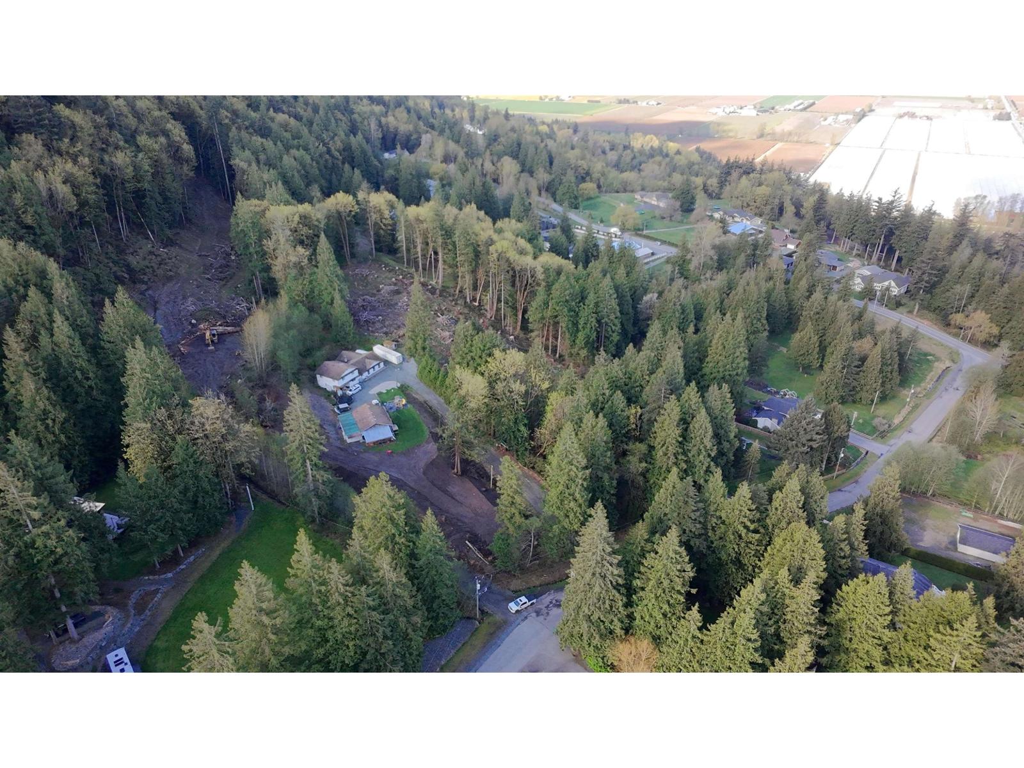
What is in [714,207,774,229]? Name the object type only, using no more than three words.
house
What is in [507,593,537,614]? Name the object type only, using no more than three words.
truck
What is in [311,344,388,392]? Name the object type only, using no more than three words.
house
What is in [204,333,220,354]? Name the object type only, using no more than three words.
work vehicle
